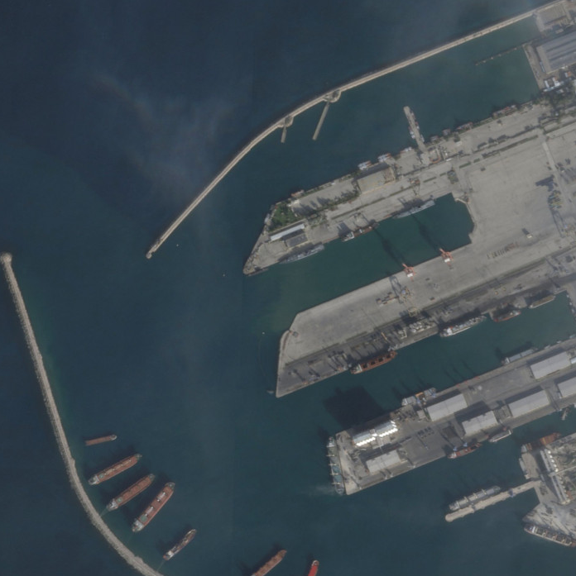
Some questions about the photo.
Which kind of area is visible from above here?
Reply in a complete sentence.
It's a port.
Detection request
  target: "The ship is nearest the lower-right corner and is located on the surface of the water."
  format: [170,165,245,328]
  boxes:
[522,524,576,548]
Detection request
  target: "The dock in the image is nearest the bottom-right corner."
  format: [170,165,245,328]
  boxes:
[445,484,535,521]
